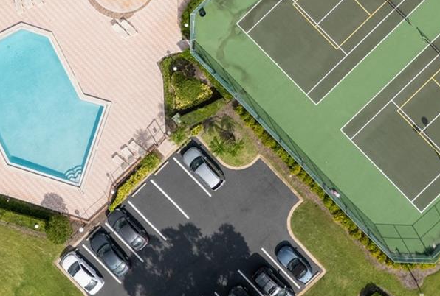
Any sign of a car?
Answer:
Yes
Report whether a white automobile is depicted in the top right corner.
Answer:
No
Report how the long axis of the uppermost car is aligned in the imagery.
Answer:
on a diagonal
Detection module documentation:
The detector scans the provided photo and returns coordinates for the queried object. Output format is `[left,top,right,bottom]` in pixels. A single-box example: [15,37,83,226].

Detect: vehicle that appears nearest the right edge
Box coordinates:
[274,240,317,287]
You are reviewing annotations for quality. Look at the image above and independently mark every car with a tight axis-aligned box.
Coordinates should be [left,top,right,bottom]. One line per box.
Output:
[105,207,151,252]
[252,263,293,296]
[60,249,107,296]
[274,240,317,287]
[86,228,132,275]
[181,143,226,190]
